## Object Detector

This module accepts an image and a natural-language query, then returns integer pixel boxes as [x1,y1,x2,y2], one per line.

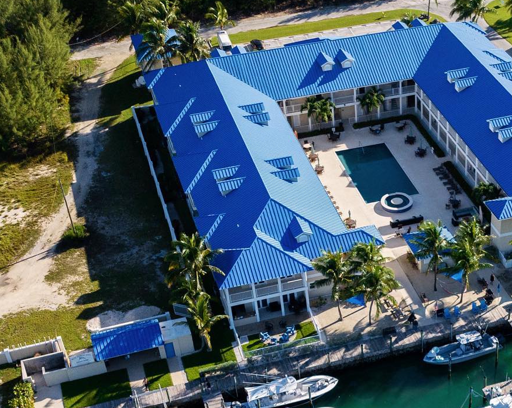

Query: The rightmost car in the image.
[252,35,265,50]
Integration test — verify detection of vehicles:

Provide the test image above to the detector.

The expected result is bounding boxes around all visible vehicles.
[252,35,265,50]
[215,25,233,50]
